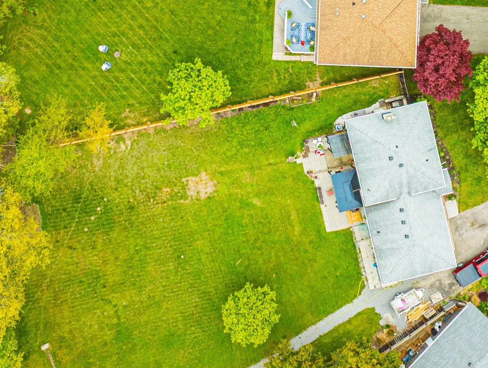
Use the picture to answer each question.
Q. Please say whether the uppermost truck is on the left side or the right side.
right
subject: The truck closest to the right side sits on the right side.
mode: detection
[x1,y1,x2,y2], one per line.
[450,245,488,289]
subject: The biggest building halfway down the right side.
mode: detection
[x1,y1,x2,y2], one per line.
[343,101,457,287]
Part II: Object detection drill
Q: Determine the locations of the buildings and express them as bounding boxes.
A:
[343,101,457,287]
[314,0,422,69]
[400,298,488,368]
